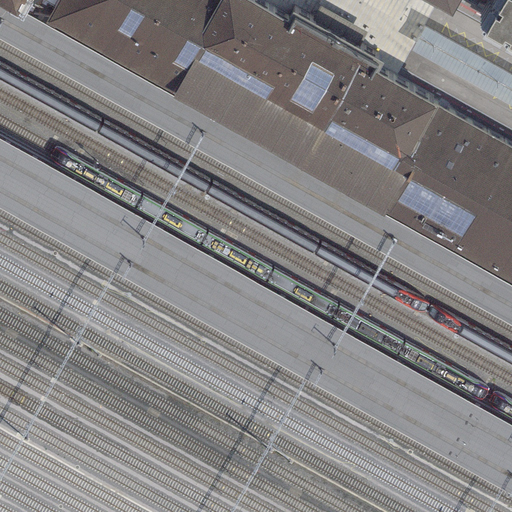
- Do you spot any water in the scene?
No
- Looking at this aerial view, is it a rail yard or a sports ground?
rail yard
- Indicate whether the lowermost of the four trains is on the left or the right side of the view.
right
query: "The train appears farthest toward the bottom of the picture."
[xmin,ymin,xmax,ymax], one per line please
[490,390,512,418]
